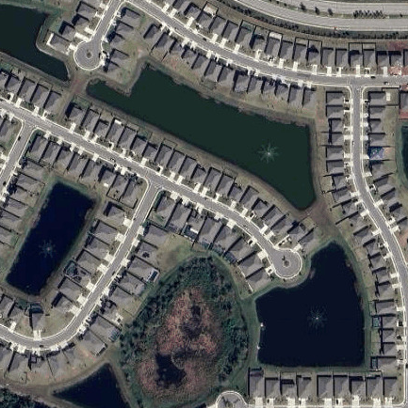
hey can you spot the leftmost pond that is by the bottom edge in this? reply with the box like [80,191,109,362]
[54,364,130,408]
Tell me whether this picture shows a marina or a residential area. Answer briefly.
residential area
